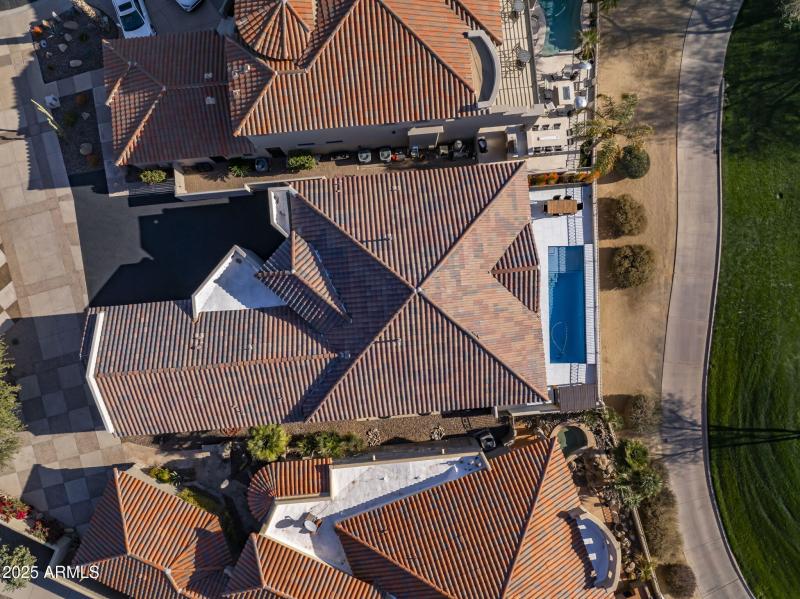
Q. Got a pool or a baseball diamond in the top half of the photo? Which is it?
pool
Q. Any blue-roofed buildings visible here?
No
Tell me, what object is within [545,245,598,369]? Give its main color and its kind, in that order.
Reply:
blue swimming pool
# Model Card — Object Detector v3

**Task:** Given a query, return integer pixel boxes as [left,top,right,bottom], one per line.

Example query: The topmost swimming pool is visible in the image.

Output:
[541,0,585,55]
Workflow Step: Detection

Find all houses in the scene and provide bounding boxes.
[67,436,617,599]
[99,0,545,169]
[78,161,549,438]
